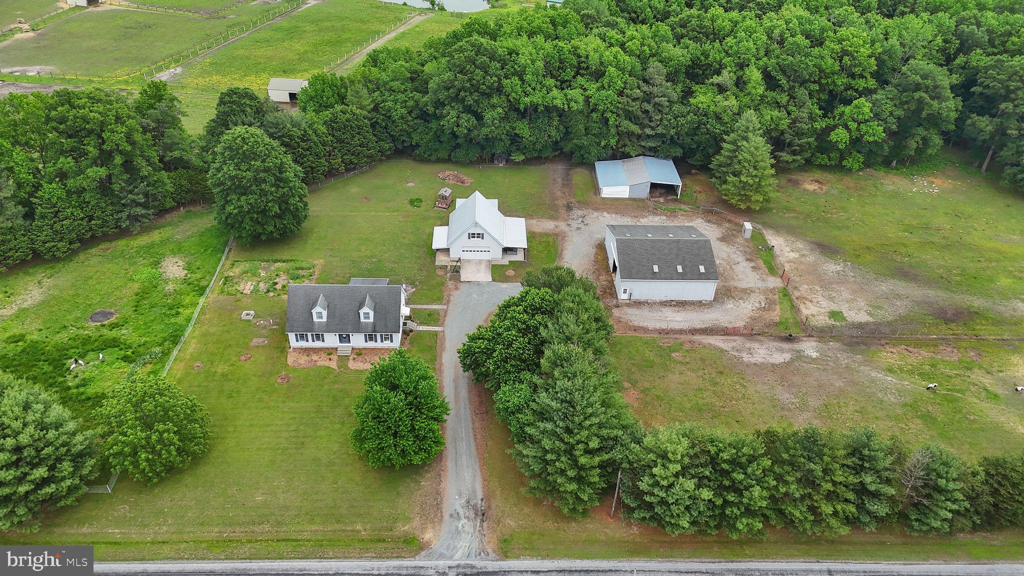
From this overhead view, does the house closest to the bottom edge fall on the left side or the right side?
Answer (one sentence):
You can find the house closest to the bottom edge on the left side of the picture.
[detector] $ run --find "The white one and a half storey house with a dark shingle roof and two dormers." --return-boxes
[284,278,411,360]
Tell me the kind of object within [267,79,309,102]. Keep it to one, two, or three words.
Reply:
shed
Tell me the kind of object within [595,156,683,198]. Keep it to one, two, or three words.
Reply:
shed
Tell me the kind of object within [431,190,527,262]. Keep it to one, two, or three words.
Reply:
building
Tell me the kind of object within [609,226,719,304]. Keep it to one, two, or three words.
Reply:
barn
